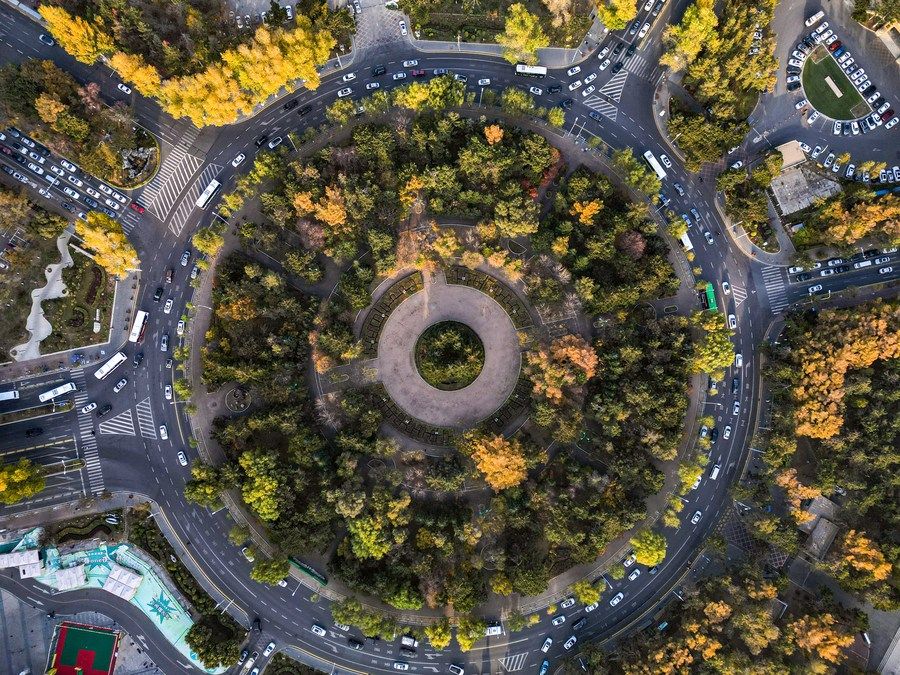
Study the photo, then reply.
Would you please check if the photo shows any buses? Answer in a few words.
Yes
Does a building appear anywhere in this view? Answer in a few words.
Yes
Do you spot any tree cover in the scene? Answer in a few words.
Yes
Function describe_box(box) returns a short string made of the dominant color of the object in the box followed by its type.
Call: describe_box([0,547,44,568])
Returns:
white tent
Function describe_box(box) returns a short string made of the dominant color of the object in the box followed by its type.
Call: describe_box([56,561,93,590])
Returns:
white tent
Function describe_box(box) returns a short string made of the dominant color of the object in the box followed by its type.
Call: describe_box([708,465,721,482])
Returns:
white vehicle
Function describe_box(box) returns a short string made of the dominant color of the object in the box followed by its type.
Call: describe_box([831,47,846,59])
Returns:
blue vehicle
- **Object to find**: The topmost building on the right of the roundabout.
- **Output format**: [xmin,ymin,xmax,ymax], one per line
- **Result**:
[867,22,900,79]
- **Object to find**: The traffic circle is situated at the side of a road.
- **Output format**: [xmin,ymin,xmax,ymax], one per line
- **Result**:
[125,52,757,675]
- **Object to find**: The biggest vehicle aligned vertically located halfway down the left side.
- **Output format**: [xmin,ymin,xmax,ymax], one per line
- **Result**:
[133,308,149,344]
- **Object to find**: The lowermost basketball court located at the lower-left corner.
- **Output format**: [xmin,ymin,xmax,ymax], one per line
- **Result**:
[51,622,120,675]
